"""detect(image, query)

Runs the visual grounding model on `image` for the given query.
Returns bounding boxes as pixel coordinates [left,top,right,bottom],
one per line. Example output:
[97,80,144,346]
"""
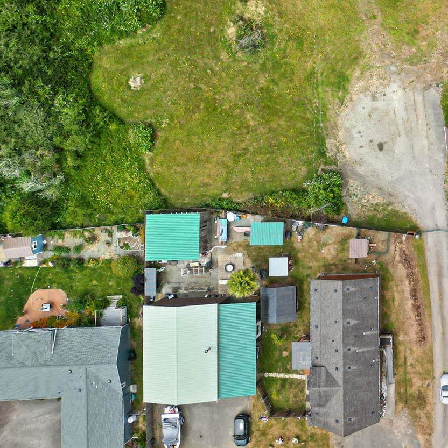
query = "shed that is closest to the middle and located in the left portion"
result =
[144,211,206,261]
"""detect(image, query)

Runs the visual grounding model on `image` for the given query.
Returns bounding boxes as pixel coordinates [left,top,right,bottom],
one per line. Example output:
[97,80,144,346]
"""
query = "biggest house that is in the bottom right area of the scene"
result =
[292,275,394,437]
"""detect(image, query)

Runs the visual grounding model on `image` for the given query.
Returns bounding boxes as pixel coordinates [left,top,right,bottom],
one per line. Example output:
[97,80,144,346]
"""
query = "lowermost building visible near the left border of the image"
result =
[0,325,132,448]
